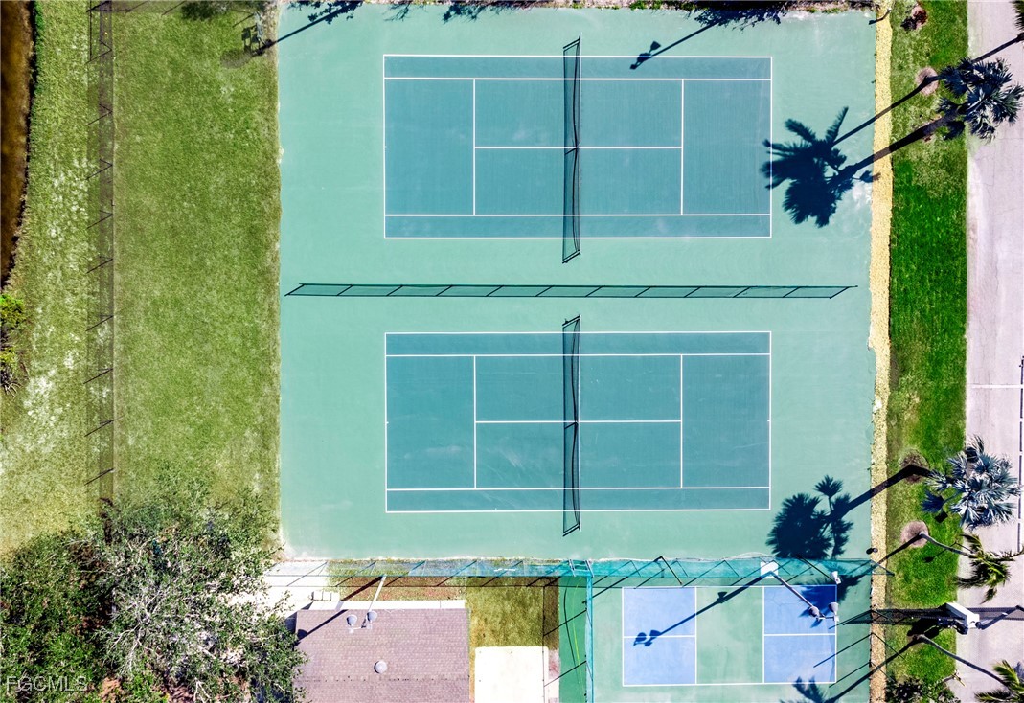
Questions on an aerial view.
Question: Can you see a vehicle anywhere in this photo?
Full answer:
No, this view has no vehicle in it.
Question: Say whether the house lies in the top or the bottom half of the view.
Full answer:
You can find the house in the bottom half.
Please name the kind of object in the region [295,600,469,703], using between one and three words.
house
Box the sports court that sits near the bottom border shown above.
[586,560,871,703]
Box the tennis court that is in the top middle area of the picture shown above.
[277,7,877,290]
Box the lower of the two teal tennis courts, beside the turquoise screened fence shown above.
[278,290,876,559]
